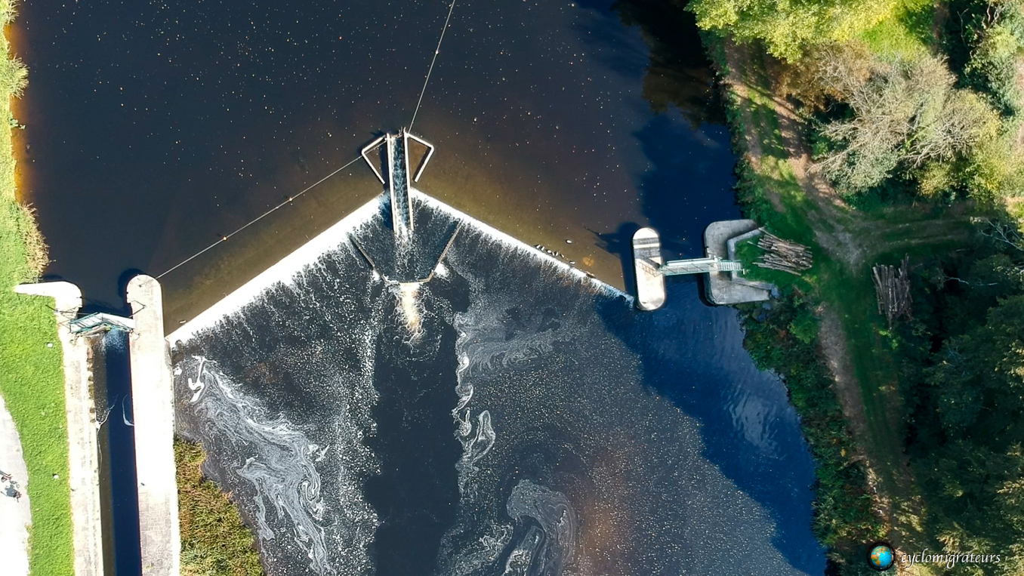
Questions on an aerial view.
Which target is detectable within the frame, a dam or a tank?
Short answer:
dam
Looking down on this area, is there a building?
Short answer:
No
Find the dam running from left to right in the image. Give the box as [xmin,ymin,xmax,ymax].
[168,187,633,358]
